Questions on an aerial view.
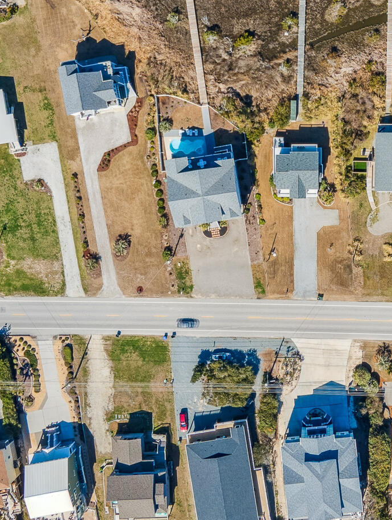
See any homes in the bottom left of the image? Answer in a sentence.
Yes, a home is visible in the bottom left of the image.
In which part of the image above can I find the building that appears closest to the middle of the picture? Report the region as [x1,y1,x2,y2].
[164,145,242,230]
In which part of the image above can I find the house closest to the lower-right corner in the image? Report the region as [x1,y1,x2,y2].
[282,405,363,520]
